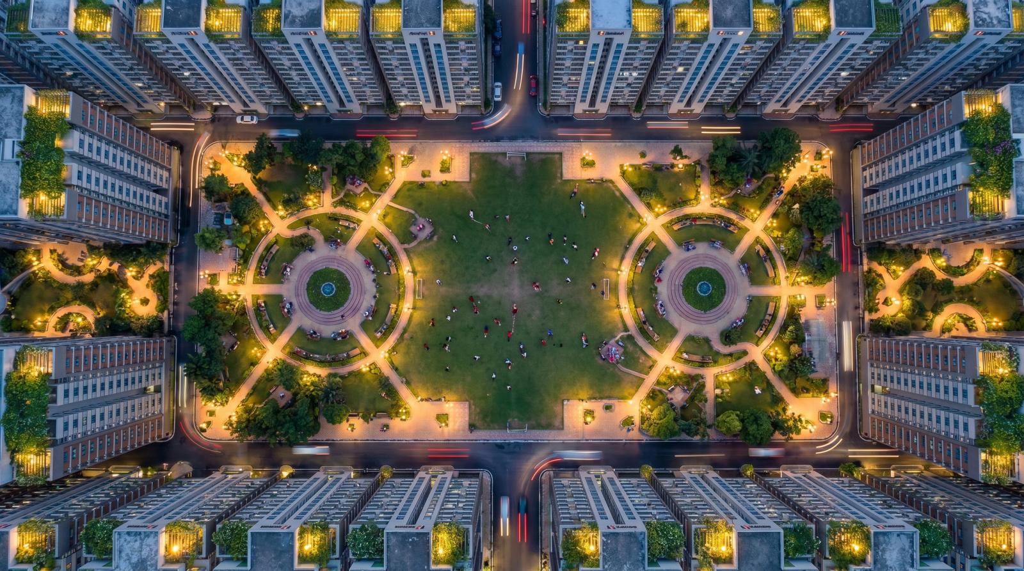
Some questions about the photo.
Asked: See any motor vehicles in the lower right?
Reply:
Yes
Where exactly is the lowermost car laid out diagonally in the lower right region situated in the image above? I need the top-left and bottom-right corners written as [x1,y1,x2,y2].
[821,437,842,454]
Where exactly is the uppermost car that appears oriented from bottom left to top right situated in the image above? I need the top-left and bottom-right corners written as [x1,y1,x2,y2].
[492,106,511,127]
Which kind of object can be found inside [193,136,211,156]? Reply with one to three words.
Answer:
car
